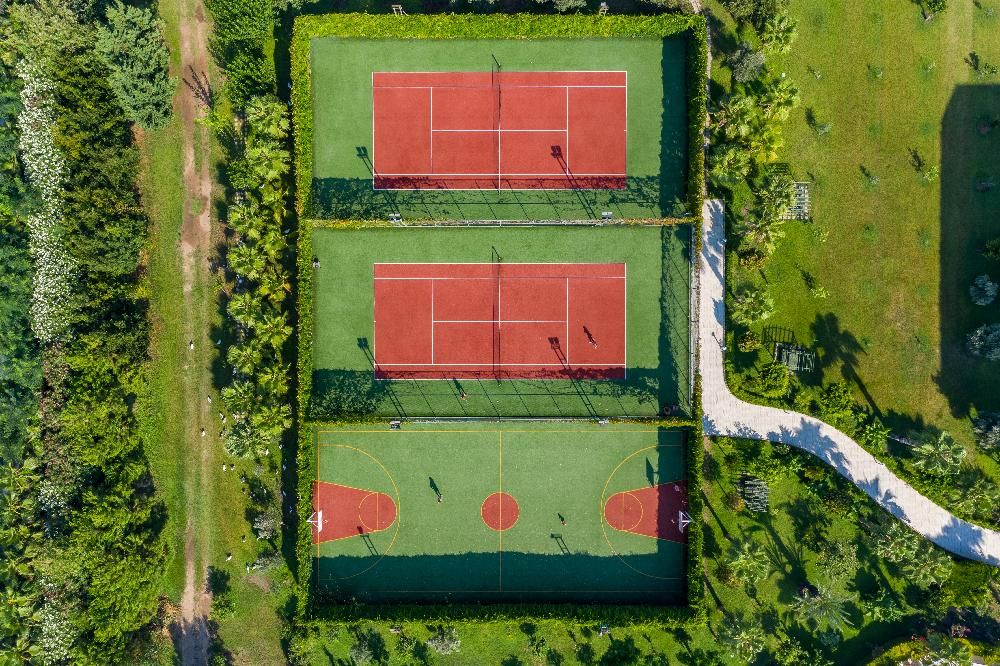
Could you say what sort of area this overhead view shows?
sports ground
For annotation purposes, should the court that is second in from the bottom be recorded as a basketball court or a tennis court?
tennis court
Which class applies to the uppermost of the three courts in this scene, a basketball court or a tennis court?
tennis court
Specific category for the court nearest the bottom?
basketball court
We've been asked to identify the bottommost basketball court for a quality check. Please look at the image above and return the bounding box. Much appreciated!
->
[311,419,689,606]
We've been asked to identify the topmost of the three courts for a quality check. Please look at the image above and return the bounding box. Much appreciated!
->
[311,38,689,226]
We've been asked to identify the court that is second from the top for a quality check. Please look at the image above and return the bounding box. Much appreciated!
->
[311,226,692,419]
